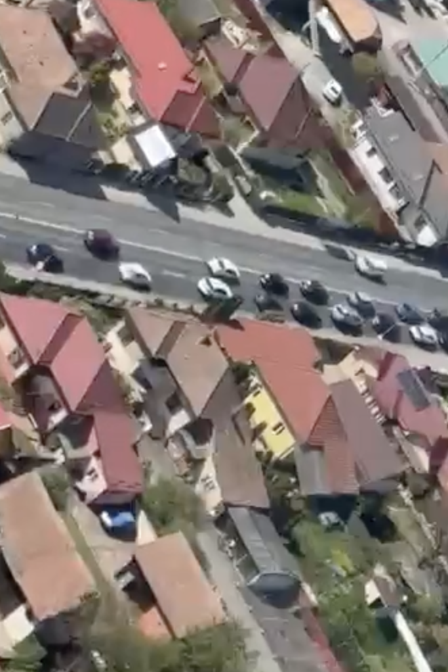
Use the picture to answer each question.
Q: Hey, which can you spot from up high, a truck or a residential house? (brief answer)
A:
residential house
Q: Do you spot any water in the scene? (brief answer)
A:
No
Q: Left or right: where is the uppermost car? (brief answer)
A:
right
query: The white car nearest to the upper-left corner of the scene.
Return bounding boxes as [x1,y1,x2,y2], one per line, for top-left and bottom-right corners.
[115,264,152,289]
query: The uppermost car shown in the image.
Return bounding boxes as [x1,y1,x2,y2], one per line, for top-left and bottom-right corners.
[319,75,344,106]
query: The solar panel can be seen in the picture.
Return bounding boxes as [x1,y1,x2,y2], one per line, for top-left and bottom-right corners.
[398,371,431,411]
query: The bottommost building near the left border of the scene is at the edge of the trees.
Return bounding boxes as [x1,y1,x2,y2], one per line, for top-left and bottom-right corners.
[0,471,109,635]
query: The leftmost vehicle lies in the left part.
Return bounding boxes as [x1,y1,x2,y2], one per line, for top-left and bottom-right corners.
[23,247,64,272]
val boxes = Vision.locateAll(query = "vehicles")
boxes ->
[319,75,344,106]
[407,327,437,348]
[195,277,232,302]
[435,332,448,352]
[23,247,64,272]
[257,273,290,295]
[250,291,284,314]
[204,258,240,282]
[392,303,426,324]
[287,302,324,328]
[353,255,388,278]
[367,318,399,339]
[81,230,122,257]
[424,311,448,332]
[344,294,375,315]
[115,264,152,289]
[328,303,364,328]
[297,280,332,306]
